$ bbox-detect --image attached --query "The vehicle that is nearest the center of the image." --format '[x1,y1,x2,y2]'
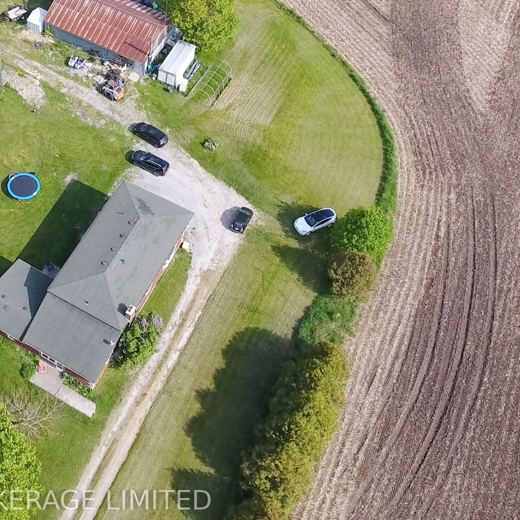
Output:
[233,202,257,233]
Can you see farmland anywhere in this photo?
Yes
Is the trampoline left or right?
left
